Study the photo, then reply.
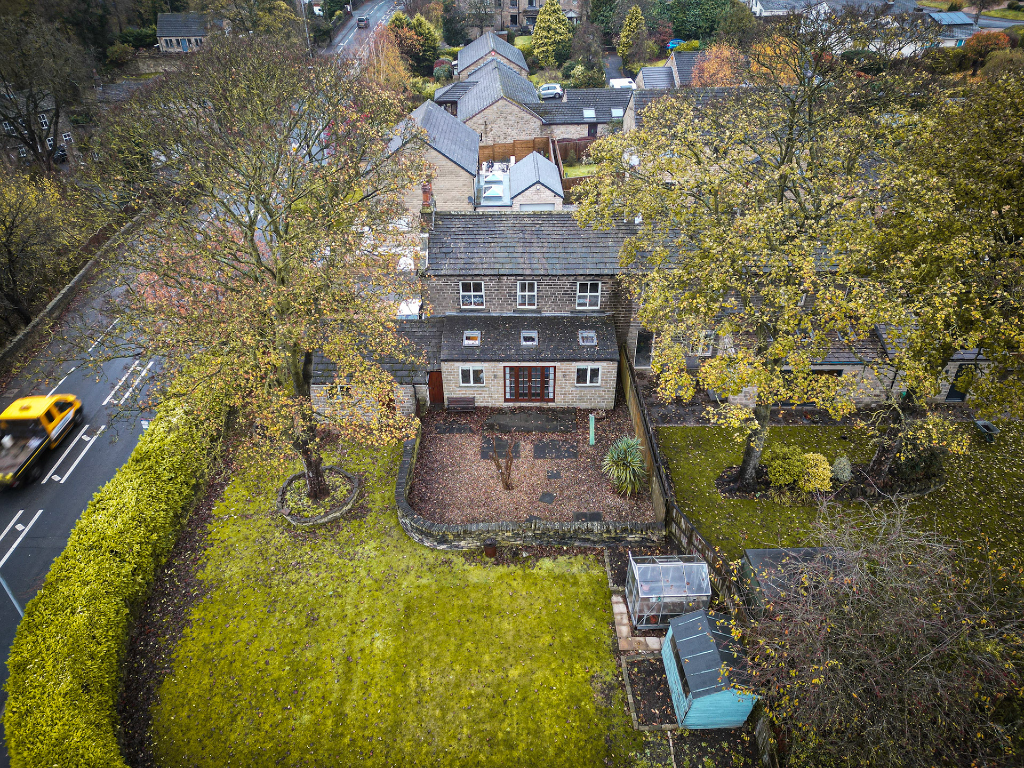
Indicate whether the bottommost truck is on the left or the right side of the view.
left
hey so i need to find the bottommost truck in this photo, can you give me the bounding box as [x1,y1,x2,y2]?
[0,395,88,496]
